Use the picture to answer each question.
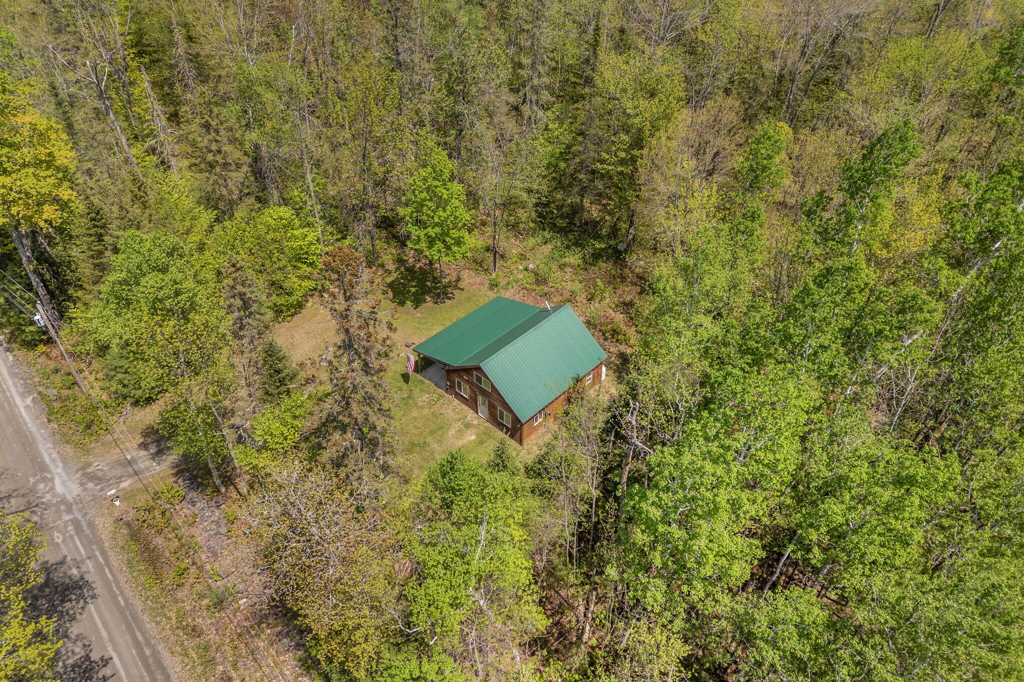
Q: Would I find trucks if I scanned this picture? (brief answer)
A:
No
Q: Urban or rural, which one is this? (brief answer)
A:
rural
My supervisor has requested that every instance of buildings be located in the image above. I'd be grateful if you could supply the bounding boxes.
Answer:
[412,297,608,447]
